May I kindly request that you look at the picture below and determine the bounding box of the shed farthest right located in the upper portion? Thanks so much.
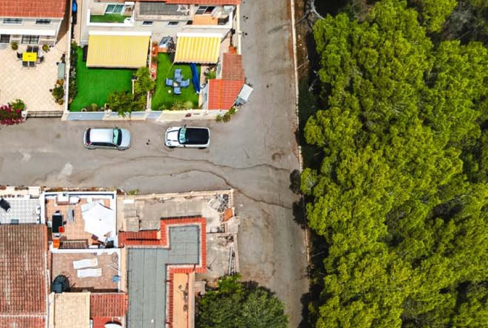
[198,53,245,111]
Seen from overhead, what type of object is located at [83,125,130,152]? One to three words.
car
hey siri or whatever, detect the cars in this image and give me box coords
[163,124,211,150]
[83,125,130,152]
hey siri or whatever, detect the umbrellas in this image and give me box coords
[78,200,120,240]
[189,63,201,102]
